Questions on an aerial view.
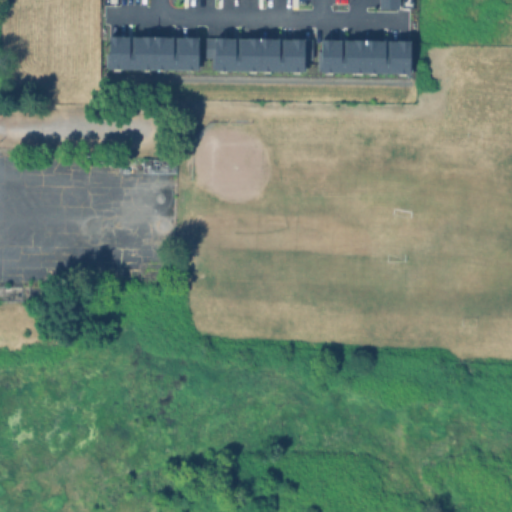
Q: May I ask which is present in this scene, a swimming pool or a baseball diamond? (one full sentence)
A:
The image shows a baseball diamond.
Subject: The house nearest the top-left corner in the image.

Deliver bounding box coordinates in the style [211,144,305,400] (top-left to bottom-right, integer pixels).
[106,37,199,74]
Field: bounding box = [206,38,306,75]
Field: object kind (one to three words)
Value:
house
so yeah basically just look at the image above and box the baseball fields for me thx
[194,128,271,204]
